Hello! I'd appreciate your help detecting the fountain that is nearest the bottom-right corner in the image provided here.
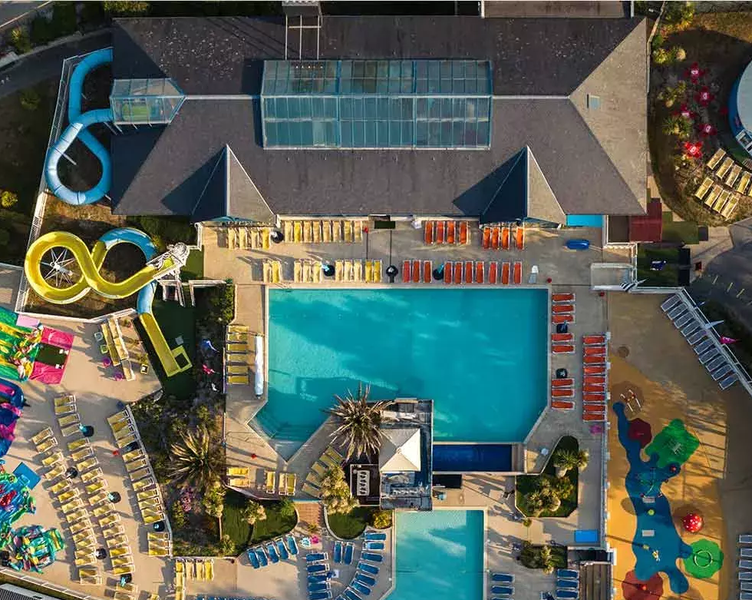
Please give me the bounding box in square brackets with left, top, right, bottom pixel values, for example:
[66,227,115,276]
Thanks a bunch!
[680,511,702,532]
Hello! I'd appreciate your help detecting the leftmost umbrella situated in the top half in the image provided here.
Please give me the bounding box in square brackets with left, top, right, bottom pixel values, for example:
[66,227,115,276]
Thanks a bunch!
[270,227,283,242]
